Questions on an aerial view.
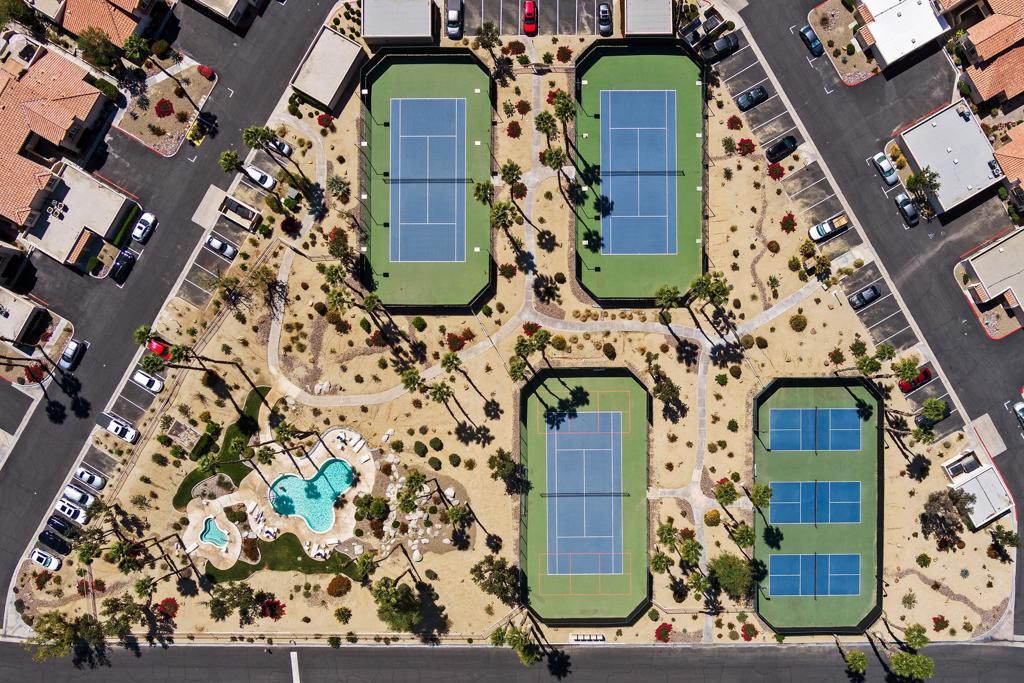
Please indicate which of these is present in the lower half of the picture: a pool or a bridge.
pool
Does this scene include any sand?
Yes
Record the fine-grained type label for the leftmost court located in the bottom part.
tennis court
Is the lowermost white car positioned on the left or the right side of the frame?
left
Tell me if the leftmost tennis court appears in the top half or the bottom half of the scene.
top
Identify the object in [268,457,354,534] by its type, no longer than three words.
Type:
swimming pool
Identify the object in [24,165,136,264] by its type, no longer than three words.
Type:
building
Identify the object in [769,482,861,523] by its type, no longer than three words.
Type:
sports court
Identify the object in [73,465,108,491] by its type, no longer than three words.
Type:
car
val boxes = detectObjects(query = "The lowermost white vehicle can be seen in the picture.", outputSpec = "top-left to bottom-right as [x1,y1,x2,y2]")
[29,546,64,571]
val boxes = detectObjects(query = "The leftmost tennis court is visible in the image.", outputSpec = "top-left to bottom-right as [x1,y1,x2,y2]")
[366,55,489,304]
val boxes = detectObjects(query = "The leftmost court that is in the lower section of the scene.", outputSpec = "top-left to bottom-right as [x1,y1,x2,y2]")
[522,369,648,618]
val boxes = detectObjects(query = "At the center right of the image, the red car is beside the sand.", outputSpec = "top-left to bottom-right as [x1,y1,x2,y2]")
[897,368,932,394]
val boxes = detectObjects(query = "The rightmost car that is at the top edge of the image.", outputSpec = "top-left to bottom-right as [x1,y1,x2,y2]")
[799,24,825,58]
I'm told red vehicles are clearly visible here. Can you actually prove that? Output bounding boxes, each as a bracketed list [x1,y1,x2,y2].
[897,368,932,394]
[143,339,174,362]
[523,0,538,35]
